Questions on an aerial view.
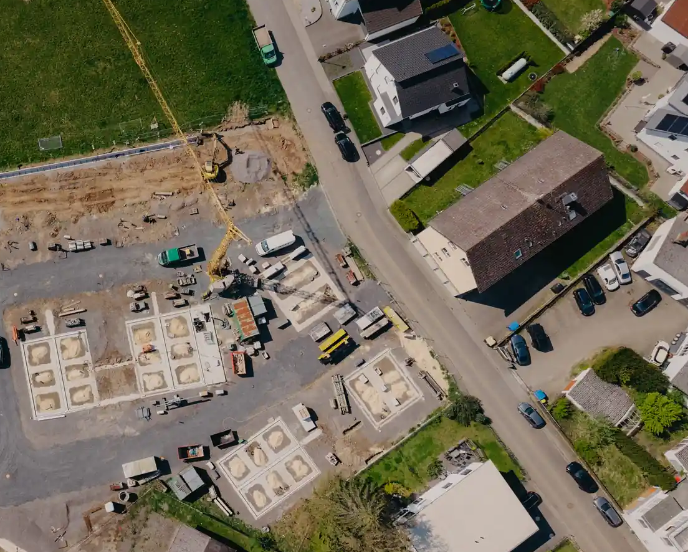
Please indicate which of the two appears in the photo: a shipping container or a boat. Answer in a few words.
shipping container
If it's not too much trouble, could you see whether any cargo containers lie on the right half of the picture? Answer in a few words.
No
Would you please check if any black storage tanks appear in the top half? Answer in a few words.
No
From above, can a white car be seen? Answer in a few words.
Yes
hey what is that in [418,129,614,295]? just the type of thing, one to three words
house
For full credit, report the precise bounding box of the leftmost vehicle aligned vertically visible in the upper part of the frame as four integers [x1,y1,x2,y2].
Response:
[202,134,220,185]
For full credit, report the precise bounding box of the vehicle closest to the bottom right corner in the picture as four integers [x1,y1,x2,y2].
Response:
[589,494,620,529]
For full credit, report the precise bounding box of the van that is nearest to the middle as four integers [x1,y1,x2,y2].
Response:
[252,229,297,258]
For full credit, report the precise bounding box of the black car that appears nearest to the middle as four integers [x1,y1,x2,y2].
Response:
[333,133,358,164]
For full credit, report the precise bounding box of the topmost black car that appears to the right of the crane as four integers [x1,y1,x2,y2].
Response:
[320,103,345,137]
